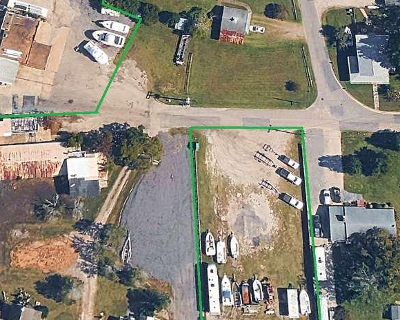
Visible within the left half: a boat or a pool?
boat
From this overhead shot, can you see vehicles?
Yes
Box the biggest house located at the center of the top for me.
[218,7,252,44]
